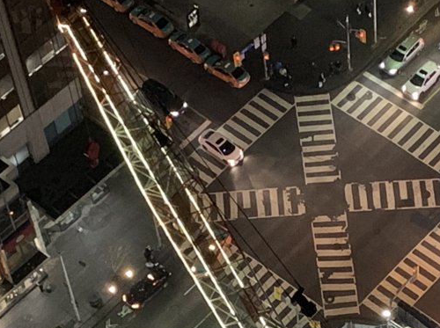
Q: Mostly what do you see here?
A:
paved ground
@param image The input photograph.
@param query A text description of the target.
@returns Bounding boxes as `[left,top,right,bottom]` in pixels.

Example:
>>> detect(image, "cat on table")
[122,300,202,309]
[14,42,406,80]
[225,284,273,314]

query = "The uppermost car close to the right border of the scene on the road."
[380,32,426,76]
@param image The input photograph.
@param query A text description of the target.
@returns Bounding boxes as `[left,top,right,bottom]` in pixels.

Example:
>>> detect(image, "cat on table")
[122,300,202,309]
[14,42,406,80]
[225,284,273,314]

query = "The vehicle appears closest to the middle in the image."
[198,127,244,170]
